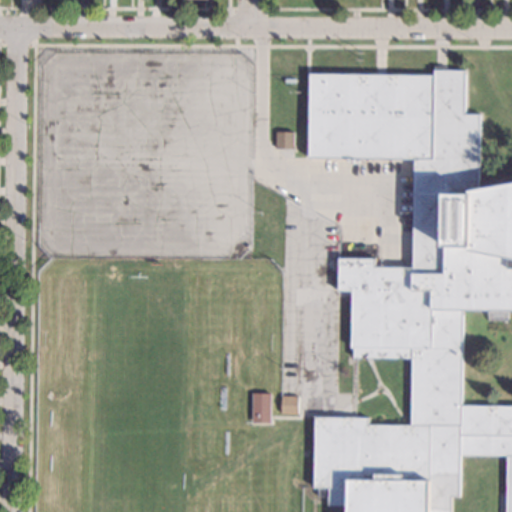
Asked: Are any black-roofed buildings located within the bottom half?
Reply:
No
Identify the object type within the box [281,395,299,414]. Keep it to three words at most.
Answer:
building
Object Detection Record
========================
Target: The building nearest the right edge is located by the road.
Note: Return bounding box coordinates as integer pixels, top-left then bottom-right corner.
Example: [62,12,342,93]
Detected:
[308,69,512,512]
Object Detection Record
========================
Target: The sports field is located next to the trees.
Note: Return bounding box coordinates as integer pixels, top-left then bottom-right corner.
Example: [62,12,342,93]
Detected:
[38,258,345,512]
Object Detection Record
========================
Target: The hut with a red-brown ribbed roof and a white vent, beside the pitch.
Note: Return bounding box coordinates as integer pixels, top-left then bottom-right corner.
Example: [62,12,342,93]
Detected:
[253,393,272,422]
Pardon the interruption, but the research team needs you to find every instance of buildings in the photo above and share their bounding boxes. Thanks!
[277,132,294,148]
[308,69,512,512]
[281,395,299,414]
[253,393,272,422]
